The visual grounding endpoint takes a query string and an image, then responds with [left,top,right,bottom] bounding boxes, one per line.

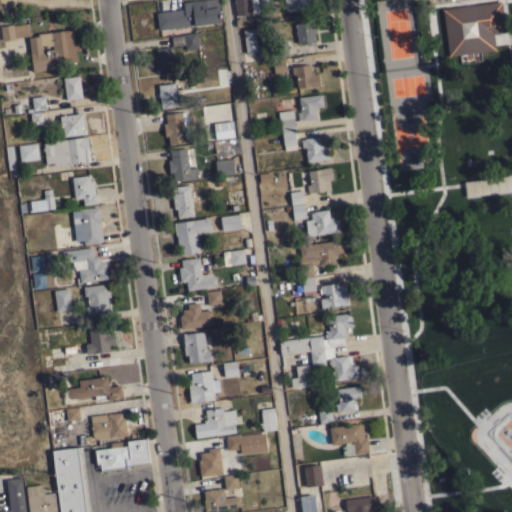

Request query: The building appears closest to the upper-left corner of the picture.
[0,23,32,41]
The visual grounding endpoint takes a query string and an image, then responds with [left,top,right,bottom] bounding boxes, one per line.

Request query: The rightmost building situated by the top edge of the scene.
[444,2,504,58]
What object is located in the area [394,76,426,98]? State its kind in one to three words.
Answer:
sports court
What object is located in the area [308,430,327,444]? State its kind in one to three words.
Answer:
swimming pool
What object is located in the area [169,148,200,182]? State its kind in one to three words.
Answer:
house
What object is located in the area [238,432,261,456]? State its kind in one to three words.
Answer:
building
